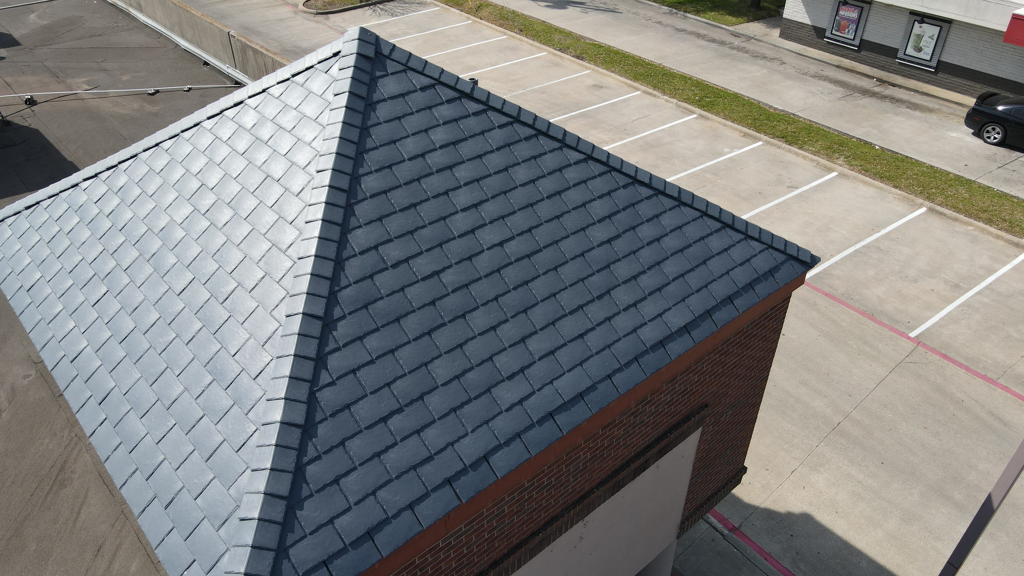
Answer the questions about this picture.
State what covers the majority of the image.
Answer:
buildings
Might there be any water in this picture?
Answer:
No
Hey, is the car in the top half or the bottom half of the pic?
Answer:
top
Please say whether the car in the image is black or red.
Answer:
black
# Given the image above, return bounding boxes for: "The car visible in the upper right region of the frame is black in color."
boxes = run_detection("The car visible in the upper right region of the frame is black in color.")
[966,91,1024,147]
